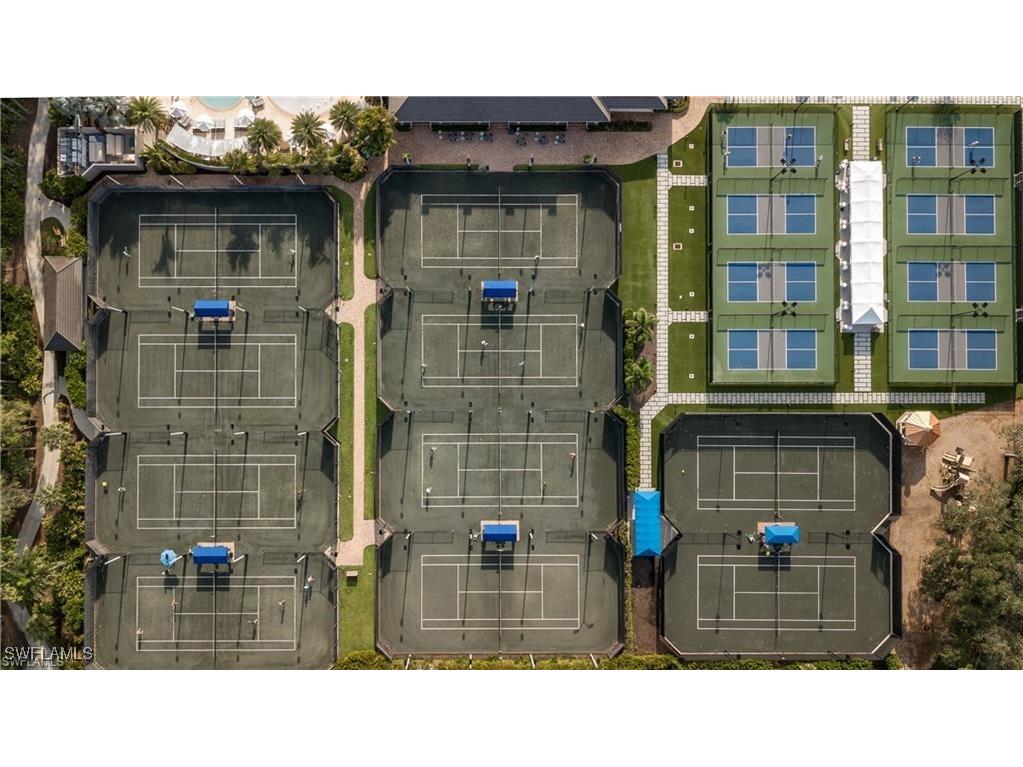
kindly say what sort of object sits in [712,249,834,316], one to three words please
sports court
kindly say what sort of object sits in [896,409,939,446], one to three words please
gazebo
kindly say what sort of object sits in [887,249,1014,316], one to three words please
sports court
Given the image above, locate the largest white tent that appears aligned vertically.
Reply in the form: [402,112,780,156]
[846,160,884,325]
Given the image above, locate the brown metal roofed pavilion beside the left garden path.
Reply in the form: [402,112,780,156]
[45,256,87,350]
